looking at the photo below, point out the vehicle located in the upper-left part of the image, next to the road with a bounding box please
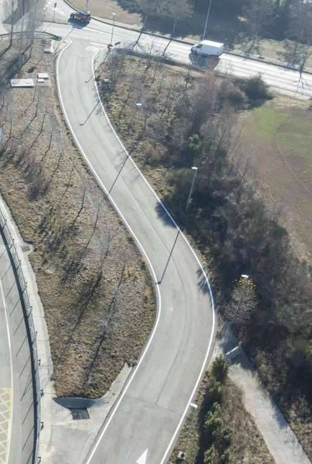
[69,11,92,26]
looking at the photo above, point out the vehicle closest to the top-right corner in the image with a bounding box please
[191,38,228,59]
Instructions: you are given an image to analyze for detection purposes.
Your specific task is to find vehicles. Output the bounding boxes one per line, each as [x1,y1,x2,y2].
[191,38,228,59]
[69,11,92,26]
